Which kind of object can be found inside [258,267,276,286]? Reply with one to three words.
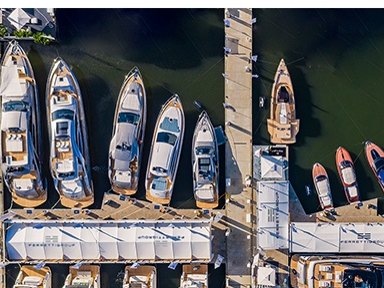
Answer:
tent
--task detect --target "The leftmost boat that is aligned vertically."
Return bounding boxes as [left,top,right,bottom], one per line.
[0,39,49,214]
